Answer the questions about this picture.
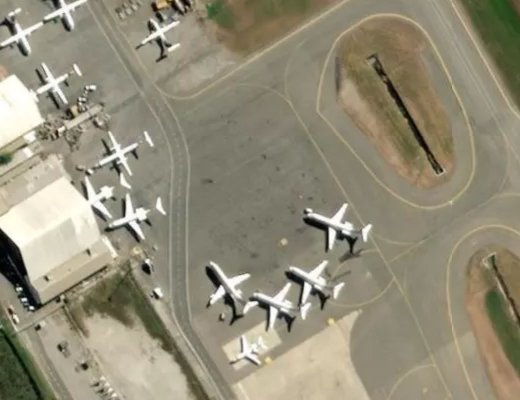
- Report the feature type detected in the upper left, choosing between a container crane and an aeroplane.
aeroplane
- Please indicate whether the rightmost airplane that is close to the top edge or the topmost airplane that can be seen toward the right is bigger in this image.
the topmost airplane that can be seen toward the right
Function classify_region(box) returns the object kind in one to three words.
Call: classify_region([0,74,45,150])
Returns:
hangar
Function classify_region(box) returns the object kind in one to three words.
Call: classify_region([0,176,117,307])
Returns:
hangar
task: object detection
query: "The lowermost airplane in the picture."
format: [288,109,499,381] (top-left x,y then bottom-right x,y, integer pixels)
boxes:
[236,336,269,364]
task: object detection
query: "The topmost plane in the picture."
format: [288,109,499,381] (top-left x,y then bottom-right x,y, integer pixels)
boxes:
[43,0,88,30]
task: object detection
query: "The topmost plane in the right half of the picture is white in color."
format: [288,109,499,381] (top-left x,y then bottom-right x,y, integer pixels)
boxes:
[306,203,374,250]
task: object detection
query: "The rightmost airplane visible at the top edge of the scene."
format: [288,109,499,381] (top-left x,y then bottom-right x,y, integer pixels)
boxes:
[142,19,180,51]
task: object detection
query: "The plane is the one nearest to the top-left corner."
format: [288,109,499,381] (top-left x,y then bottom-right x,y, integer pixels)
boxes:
[0,9,46,54]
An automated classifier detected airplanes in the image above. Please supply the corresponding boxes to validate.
[236,336,269,364]
[306,203,374,250]
[253,281,314,331]
[37,62,83,102]
[289,259,346,307]
[43,0,88,30]
[100,131,153,174]
[210,263,261,315]
[109,194,167,239]
[0,9,46,54]
[142,19,180,51]
[89,173,133,214]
